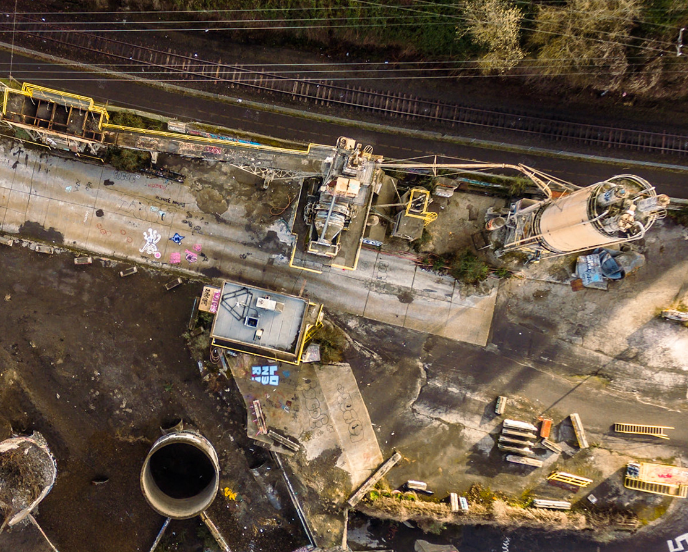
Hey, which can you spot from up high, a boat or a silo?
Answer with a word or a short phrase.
silo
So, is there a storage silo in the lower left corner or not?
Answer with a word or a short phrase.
Yes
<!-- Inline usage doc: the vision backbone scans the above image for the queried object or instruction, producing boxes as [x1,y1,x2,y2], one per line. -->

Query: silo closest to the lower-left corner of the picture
[0,435,55,528]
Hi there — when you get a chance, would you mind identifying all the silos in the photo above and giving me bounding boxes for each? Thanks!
[495,161,686,268]
[139,426,222,516]
[0,435,55,528]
